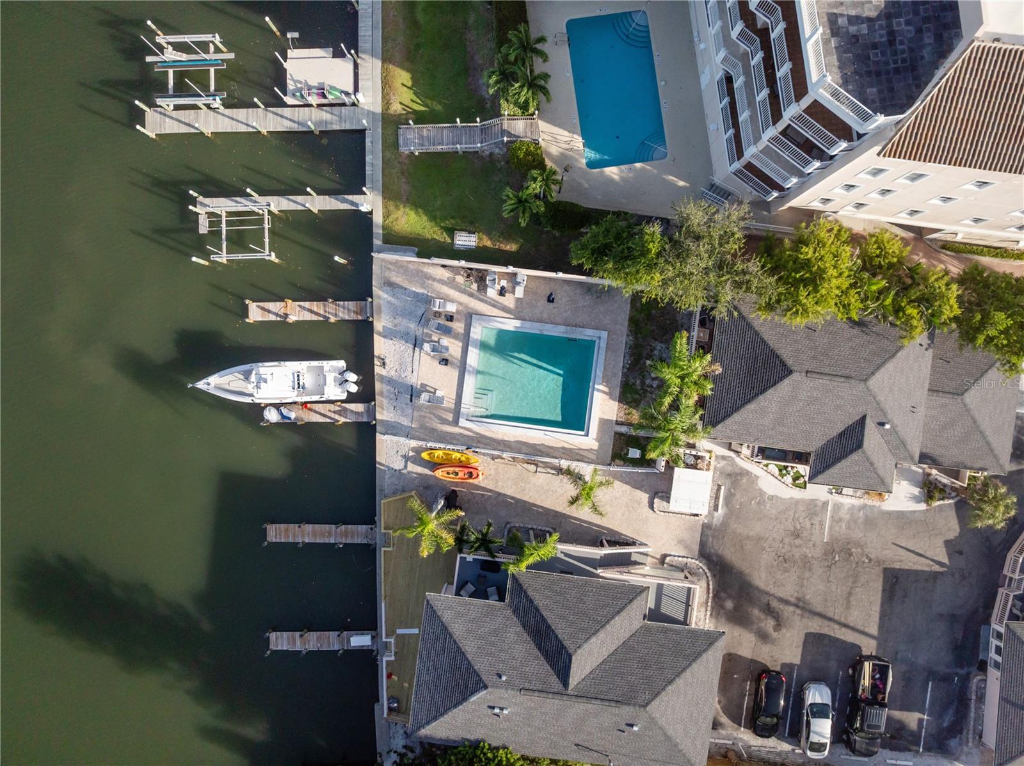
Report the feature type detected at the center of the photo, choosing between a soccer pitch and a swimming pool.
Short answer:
swimming pool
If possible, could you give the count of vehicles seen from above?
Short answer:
three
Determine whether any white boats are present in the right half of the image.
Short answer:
No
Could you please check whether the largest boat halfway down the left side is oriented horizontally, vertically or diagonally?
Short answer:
horizontally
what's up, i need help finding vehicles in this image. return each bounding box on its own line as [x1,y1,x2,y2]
[750,669,788,738]
[843,647,892,758]
[798,679,838,760]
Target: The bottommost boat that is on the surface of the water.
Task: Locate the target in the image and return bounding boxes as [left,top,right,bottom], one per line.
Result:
[185,360,360,403]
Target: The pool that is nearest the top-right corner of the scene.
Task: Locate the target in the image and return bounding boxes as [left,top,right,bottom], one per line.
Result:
[553,0,677,172]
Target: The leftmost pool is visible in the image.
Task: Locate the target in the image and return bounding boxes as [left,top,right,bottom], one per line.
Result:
[459,315,607,440]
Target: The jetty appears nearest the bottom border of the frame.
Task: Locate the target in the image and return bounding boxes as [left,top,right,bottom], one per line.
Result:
[265,623,378,655]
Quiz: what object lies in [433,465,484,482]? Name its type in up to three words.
boat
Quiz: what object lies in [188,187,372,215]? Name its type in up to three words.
pier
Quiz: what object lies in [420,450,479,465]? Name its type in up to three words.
boat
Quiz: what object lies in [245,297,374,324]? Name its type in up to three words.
pier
